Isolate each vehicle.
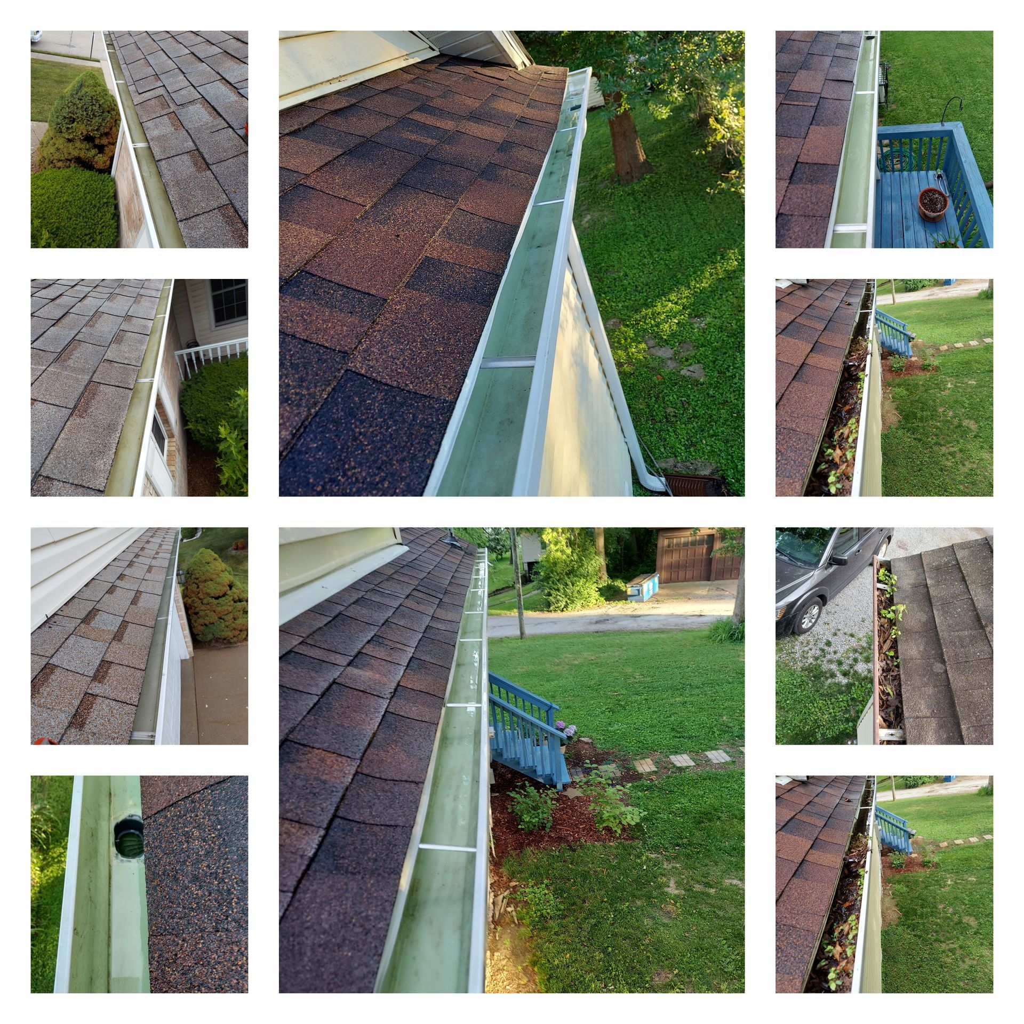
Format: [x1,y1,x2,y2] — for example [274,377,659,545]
[30,30,46,40]
[775,527,905,643]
